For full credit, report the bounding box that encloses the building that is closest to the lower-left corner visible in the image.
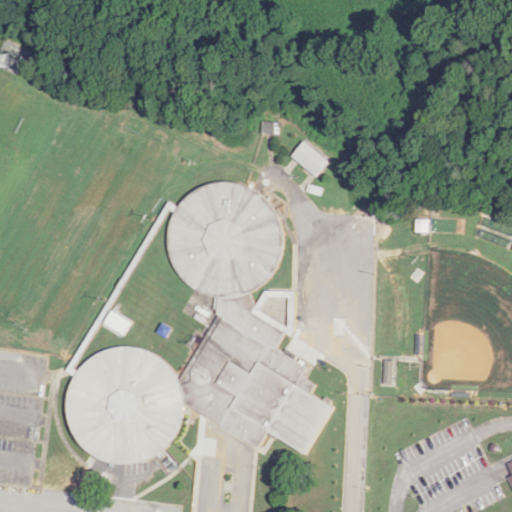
[68,348,184,463]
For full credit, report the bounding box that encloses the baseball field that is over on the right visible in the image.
[428,320,495,383]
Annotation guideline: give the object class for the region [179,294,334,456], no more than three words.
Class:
building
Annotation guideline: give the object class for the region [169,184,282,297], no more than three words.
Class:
building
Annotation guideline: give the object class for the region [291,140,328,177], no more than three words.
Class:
barn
